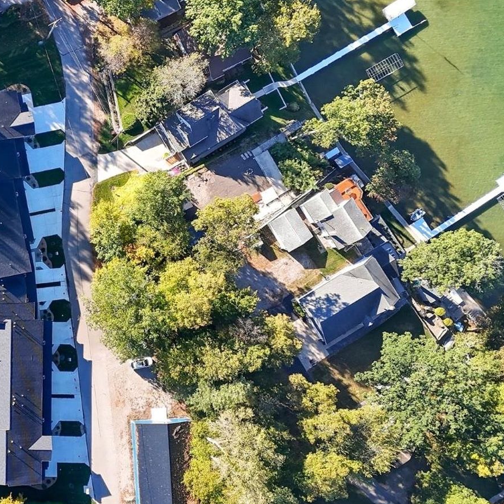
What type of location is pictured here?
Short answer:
residential area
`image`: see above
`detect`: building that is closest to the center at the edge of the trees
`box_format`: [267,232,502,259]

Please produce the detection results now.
[265,207,313,253]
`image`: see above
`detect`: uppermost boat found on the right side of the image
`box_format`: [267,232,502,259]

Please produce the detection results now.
[409,209,429,222]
